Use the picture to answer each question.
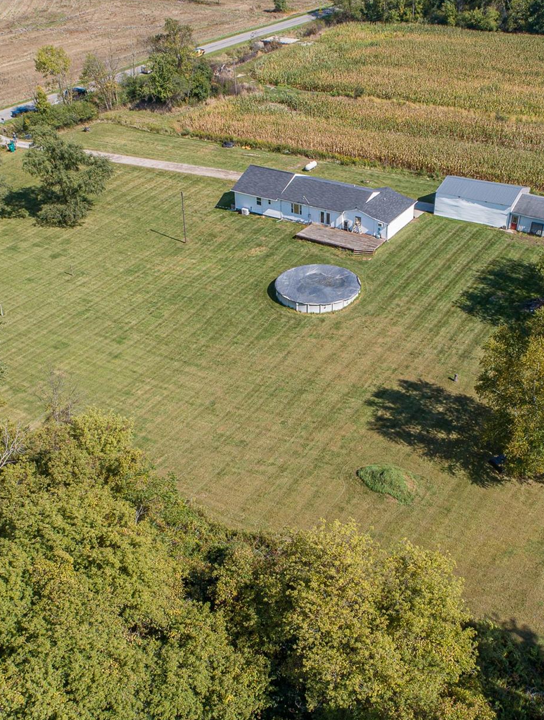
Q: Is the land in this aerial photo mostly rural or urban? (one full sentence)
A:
The area is rural.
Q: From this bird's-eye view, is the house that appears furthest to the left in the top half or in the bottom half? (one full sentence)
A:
Seen from above, the house that appears furthest to the left lies in the top half of the view.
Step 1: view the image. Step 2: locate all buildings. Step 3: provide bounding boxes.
[229,165,419,244]
[433,172,532,229]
